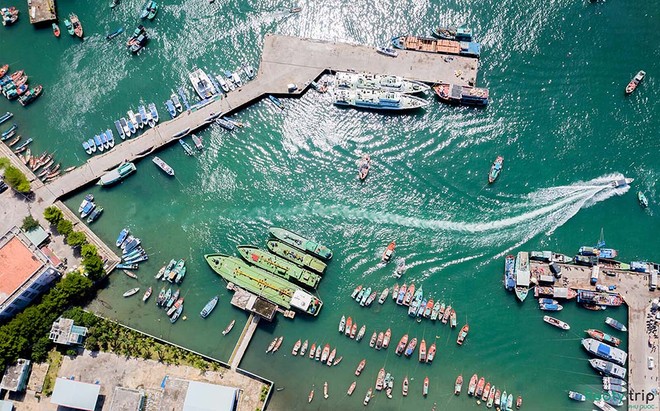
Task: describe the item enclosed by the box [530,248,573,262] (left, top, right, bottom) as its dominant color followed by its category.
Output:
white boat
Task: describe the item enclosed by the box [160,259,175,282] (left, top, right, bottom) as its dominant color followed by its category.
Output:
white boat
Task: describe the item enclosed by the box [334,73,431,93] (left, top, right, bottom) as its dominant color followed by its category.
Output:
white ship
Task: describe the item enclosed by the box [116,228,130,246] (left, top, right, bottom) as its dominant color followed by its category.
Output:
blue boat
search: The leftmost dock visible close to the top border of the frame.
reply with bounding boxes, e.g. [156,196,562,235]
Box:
[30,0,57,25]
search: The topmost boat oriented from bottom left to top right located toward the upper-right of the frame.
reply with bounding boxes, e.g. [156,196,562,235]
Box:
[626,70,648,94]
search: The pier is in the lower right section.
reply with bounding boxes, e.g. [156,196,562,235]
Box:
[529,260,660,411]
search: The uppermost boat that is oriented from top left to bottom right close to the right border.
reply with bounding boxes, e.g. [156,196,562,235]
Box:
[636,191,649,207]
